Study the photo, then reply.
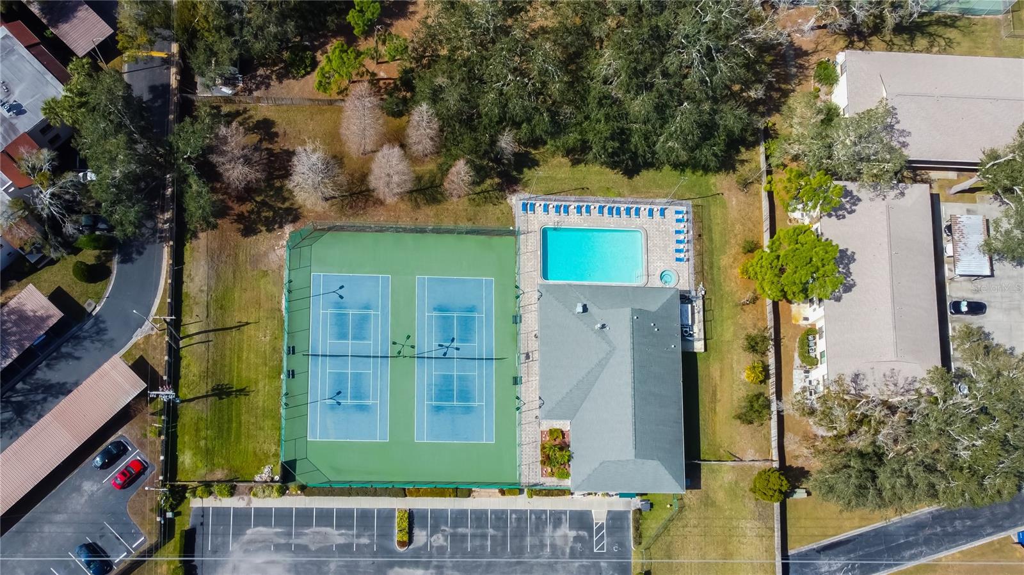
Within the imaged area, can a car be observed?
Yes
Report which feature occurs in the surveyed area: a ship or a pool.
pool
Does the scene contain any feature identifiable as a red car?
Yes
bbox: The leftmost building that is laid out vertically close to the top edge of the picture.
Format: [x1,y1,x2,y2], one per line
[0,20,82,189]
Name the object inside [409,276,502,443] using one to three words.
tennis court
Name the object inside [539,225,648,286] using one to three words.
swimming pool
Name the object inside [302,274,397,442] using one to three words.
tennis court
